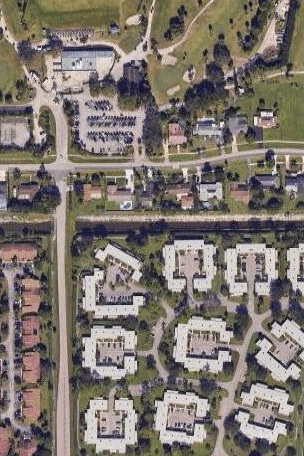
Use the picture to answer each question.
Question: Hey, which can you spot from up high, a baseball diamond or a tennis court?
tennis court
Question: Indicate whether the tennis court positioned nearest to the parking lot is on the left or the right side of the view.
left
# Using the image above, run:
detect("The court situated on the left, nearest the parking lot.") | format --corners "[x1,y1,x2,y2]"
[1,118,30,145]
